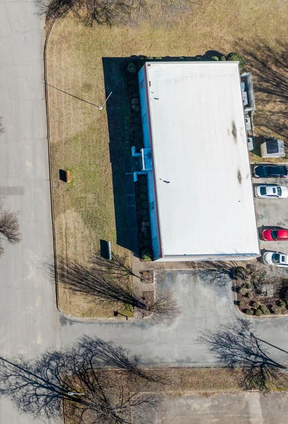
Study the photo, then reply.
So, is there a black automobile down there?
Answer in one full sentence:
Yes, there is a black automobile in the image.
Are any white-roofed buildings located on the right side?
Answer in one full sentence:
Yes, you'll find a white-roofed building on the right side.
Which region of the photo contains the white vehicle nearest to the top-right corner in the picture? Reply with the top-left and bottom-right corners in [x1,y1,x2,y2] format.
[254,183,288,199]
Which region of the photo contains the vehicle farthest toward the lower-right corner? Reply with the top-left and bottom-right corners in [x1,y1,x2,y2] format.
[262,249,288,267]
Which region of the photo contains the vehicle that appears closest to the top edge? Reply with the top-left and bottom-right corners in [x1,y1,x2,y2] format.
[252,162,288,179]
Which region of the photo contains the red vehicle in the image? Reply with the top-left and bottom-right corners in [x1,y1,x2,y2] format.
[260,226,288,242]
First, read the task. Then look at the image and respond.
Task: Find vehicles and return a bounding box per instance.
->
[262,249,288,267]
[252,162,288,179]
[254,183,288,199]
[260,226,288,242]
